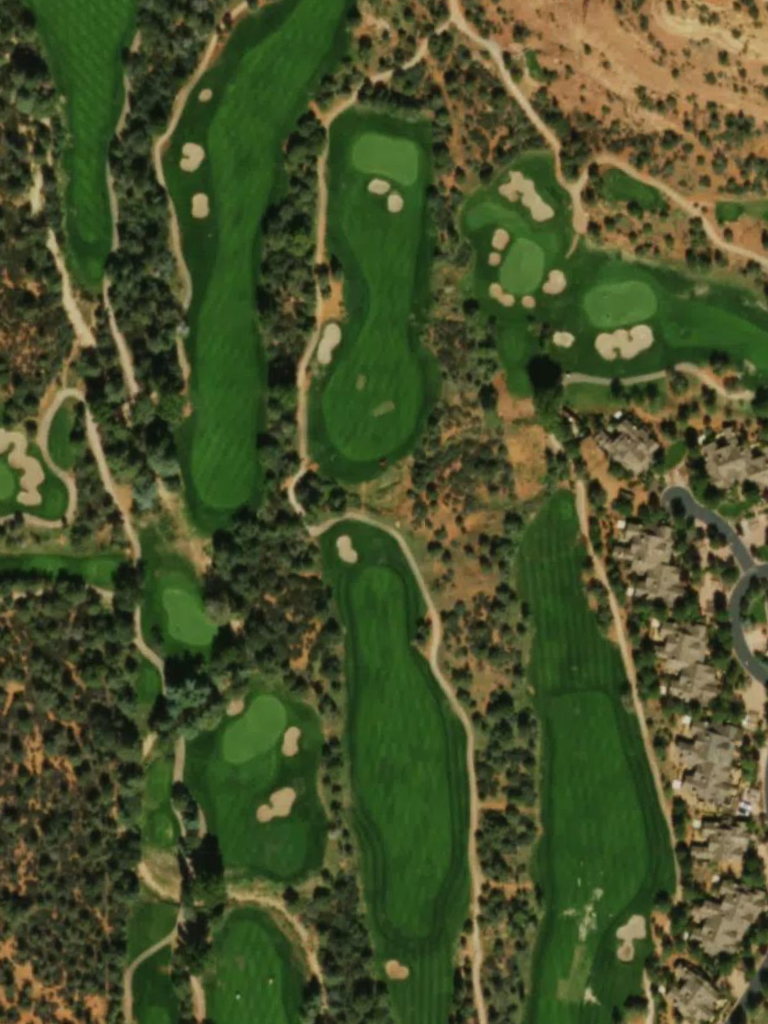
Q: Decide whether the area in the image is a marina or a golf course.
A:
golf course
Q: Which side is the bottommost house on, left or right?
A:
right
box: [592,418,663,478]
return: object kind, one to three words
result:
house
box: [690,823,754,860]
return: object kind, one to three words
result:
house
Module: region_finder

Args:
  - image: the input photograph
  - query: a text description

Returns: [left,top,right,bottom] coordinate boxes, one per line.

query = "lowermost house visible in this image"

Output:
[666,965,723,1024]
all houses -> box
[612,523,690,607]
[697,882,768,960]
[654,623,721,703]
[666,965,723,1024]
[592,418,663,478]
[678,723,740,806]
[699,424,768,489]
[690,823,754,860]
